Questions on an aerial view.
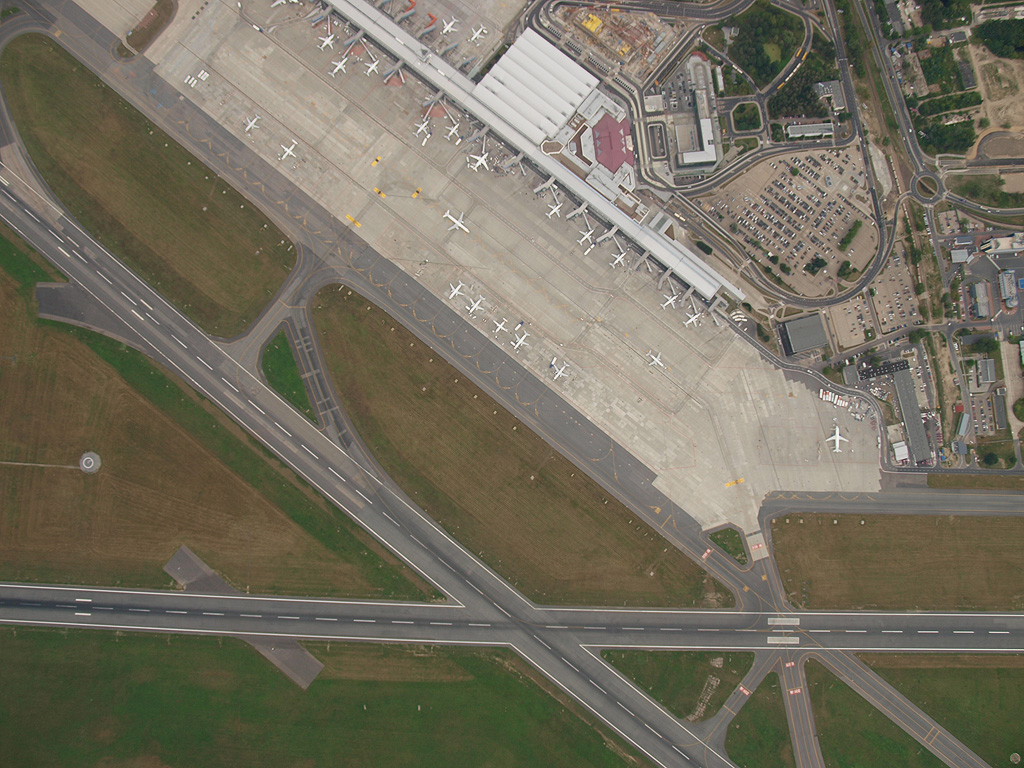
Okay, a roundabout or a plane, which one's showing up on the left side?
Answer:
plane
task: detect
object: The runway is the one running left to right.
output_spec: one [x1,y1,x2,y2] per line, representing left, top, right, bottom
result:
[0,584,1024,653]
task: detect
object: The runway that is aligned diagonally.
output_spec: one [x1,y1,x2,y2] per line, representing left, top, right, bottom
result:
[0,160,738,768]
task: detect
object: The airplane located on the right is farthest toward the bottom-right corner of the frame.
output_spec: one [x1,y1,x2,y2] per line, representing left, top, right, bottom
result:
[827,426,848,453]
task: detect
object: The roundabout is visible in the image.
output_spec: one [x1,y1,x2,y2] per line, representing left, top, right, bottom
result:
[910,171,943,205]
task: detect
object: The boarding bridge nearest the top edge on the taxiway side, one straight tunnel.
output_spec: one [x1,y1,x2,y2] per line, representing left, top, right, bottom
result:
[311,5,333,35]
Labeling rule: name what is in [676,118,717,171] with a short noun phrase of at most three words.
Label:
building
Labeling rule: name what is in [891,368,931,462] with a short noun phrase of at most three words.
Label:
hangar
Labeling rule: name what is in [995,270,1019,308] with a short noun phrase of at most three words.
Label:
building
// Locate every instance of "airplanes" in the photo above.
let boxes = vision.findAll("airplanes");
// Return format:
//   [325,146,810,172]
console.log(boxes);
[609,253,626,269]
[554,361,570,380]
[682,313,701,328]
[470,294,486,314]
[514,330,531,349]
[576,229,594,245]
[245,113,262,132]
[660,293,681,311]
[363,61,379,76]
[443,209,470,233]
[442,15,460,34]
[318,35,334,51]
[444,124,459,140]
[449,280,464,299]
[327,58,347,78]
[412,121,428,137]
[469,153,488,174]
[493,317,508,332]
[827,426,848,453]
[471,24,486,41]
[545,203,562,219]
[645,349,666,369]
[278,138,297,160]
